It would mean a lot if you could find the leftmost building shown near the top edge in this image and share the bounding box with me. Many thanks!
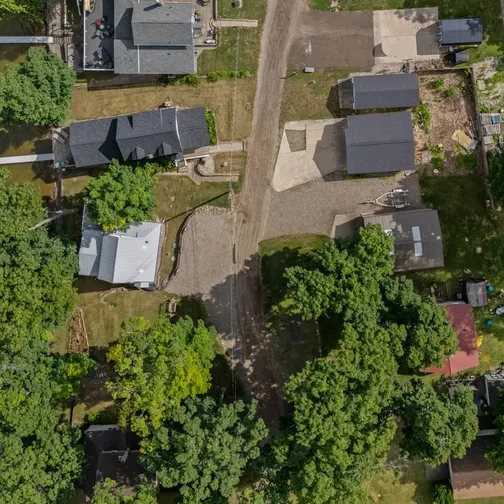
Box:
[82,0,205,74]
